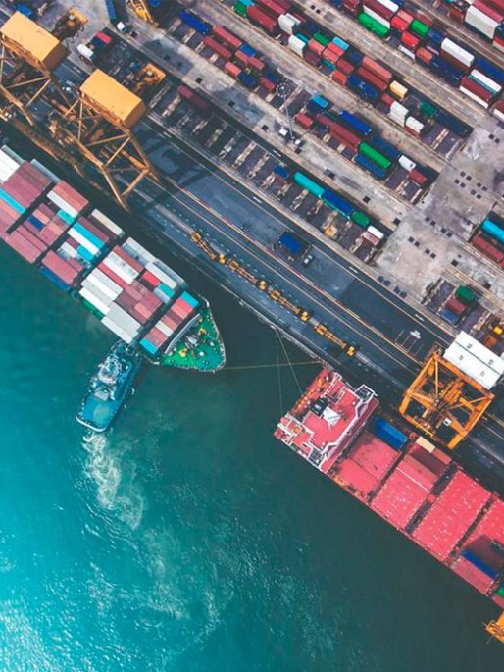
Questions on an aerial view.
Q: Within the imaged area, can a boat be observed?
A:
Yes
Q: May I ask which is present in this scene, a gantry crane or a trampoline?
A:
gantry crane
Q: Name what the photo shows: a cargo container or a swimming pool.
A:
cargo container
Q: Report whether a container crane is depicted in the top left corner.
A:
Yes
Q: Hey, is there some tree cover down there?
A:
No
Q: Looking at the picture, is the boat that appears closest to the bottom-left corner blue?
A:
Yes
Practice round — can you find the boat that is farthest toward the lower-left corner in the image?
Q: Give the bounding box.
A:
[78,344,138,435]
